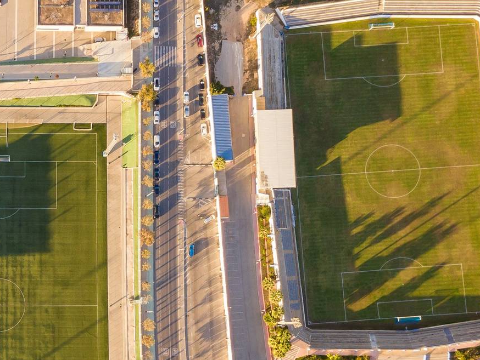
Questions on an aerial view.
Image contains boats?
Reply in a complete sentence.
No, I can see no boat in this picture.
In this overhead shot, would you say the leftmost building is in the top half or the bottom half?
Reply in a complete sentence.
The top half of the photo is where the leftmost building is.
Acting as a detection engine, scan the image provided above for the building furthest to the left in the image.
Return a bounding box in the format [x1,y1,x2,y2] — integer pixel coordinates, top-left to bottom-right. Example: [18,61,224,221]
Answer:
[35,0,76,32]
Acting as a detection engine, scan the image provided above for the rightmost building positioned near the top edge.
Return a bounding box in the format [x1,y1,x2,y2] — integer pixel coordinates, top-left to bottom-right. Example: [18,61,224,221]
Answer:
[259,5,286,30]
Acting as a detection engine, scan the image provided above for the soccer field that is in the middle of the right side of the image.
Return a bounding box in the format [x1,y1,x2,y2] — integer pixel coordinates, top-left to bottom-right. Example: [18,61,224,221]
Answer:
[284,19,480,329]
